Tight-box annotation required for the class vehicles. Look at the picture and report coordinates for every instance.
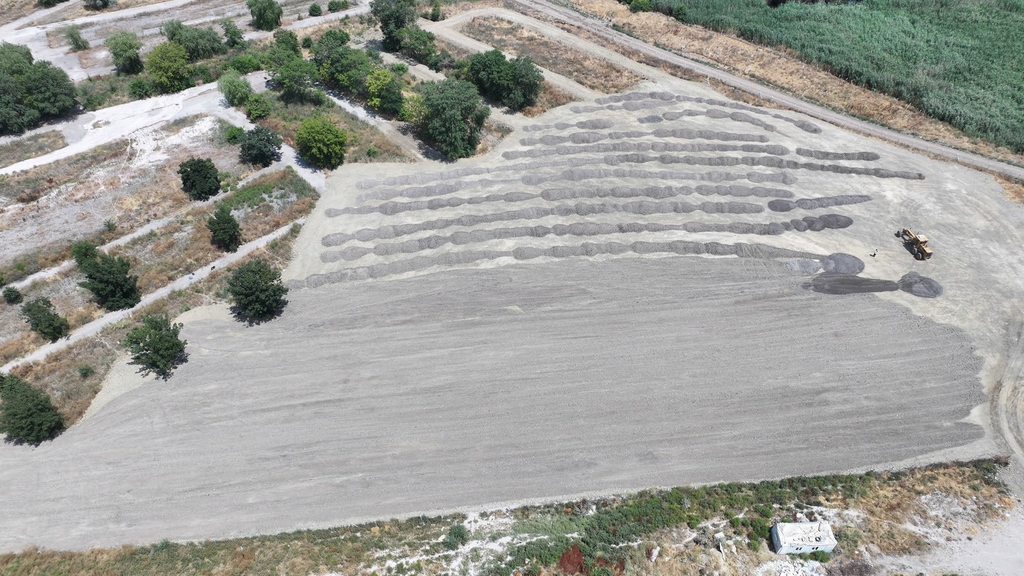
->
[895,228,934,263]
